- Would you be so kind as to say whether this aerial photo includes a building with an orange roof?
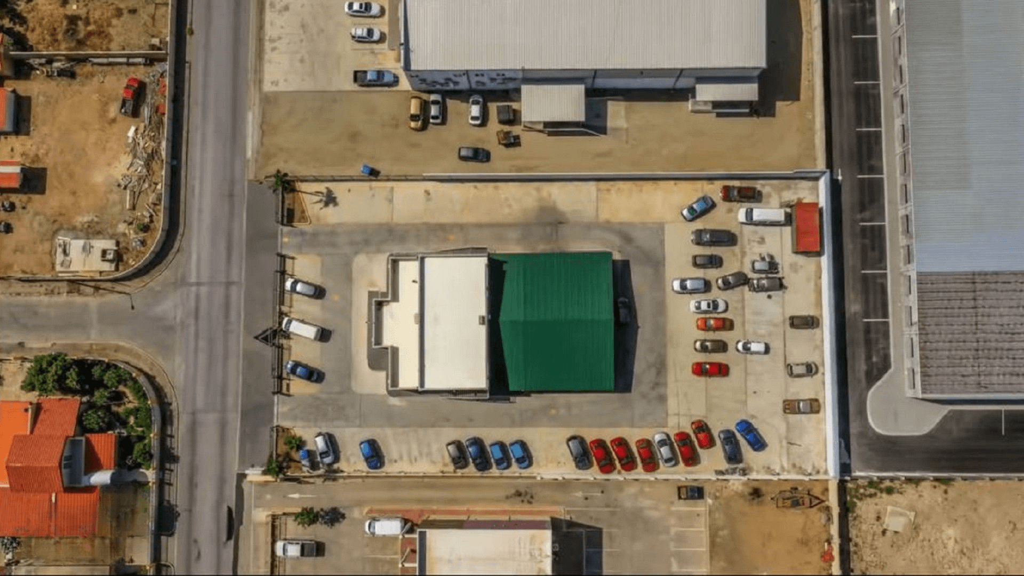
Yes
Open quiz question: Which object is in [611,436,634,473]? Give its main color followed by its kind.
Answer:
red car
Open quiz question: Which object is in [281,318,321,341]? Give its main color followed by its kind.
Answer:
white vehicle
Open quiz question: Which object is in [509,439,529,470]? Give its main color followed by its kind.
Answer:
blue car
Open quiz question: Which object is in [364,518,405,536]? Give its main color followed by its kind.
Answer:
white vehicle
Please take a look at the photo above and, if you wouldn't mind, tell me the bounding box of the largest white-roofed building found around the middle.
[372,254,493,390]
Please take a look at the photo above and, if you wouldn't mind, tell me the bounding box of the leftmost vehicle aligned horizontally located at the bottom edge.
[276,540,317,559]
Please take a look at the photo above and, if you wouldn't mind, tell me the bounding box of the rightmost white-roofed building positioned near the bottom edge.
[417,513,552,576]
